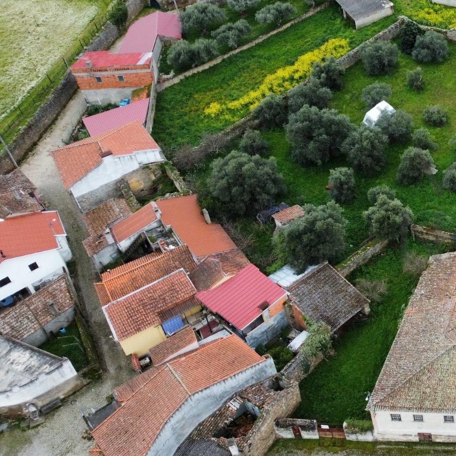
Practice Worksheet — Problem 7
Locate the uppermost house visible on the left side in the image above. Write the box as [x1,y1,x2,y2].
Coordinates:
[119,11,182,62]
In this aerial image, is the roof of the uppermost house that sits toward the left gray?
No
